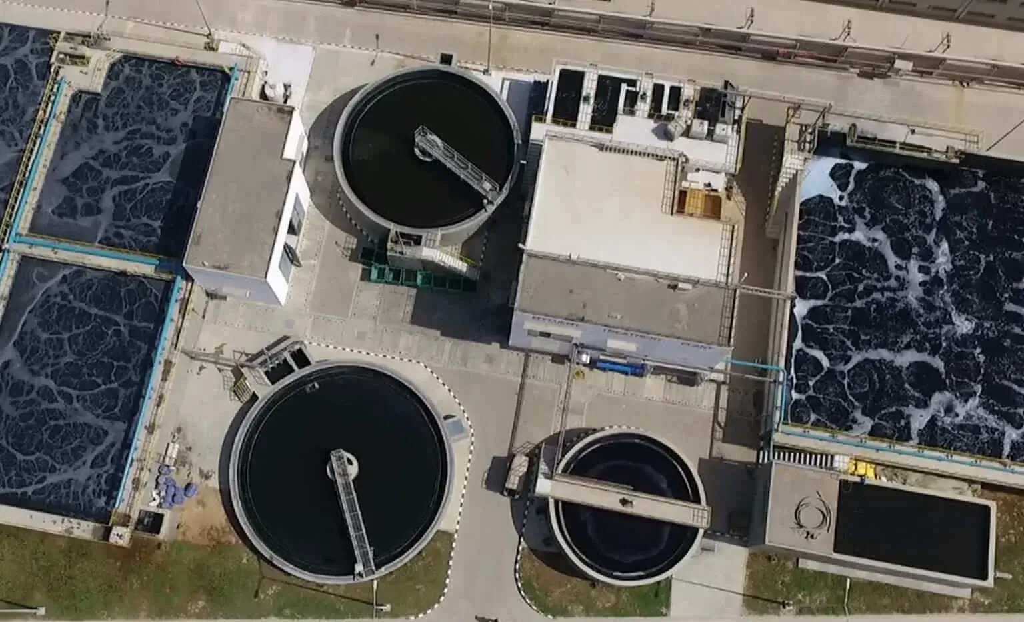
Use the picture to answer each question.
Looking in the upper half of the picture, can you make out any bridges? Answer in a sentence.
Yes, a bridge appears in the upper half of the picture.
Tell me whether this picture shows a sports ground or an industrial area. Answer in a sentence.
This image shows an industrial area.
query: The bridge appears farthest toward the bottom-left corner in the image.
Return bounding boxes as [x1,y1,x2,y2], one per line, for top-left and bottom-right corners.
[329,448,374,575]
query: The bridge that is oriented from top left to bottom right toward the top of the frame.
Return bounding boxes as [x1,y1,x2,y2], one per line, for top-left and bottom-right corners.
[416,132,500,206]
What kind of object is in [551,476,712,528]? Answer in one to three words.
bridge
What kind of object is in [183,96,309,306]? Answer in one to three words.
building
